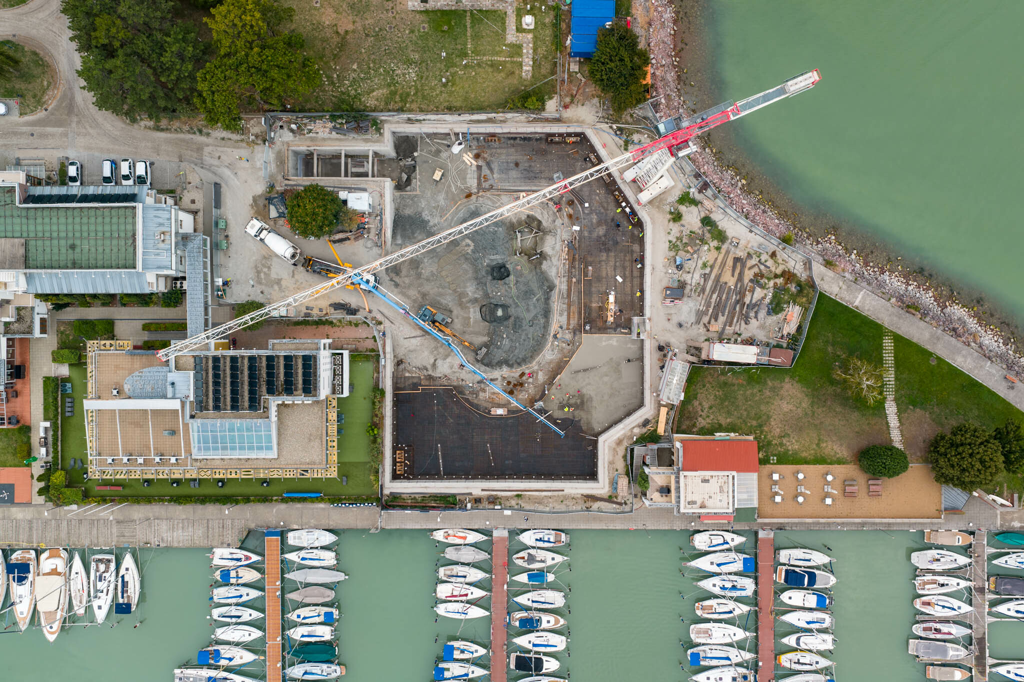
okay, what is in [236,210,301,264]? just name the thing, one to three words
truck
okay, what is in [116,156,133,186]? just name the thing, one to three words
car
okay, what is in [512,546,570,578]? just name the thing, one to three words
boat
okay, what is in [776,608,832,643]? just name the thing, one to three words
boat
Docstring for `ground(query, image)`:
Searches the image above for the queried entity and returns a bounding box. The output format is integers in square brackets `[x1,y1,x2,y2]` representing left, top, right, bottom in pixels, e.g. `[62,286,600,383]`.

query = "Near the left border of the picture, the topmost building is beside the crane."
[0,166,205,293]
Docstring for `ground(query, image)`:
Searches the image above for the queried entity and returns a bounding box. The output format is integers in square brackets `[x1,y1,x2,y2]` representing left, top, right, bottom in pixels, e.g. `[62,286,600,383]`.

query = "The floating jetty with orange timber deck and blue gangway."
[259,526,290,682]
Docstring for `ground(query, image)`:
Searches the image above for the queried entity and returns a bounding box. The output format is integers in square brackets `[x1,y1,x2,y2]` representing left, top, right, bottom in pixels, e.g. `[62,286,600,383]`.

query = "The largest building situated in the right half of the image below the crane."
[633,432,759,522]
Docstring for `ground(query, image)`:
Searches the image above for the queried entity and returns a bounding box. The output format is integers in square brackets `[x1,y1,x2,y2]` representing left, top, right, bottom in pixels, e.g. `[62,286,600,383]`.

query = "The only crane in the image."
[159,64,827,361]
